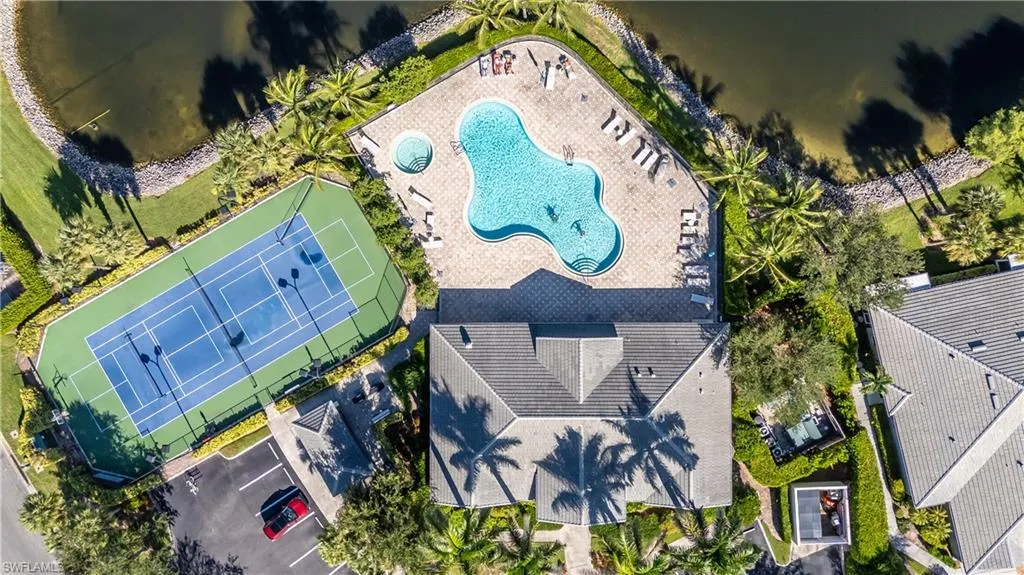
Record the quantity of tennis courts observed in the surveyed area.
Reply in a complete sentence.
In total, 1 tennis court can be seen.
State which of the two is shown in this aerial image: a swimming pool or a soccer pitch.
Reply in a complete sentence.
There is a swimming pool in the scene.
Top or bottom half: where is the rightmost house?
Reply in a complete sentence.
It is in the bottom half that the rightmost house appears.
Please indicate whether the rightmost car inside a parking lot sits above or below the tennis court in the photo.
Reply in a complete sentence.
The rightmost car inside a parking lot appears below the tennis court in the picture.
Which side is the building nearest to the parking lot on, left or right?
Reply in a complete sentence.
The building nearest to the parking lot is on the left side of the image.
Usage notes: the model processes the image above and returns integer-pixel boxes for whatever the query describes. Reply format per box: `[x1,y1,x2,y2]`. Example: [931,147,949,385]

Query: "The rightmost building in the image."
[863,247,1024,575]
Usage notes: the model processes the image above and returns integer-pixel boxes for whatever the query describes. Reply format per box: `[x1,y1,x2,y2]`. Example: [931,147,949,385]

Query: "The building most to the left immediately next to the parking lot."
[291,400,375,495]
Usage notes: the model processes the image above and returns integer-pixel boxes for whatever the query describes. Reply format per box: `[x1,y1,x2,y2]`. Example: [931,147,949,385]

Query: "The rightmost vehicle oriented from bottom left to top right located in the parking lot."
[262,499,311,538]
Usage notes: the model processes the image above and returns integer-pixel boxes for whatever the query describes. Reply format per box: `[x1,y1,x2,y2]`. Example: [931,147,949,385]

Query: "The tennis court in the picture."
[35,176,405,480]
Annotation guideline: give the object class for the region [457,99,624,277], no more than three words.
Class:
swimming pool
